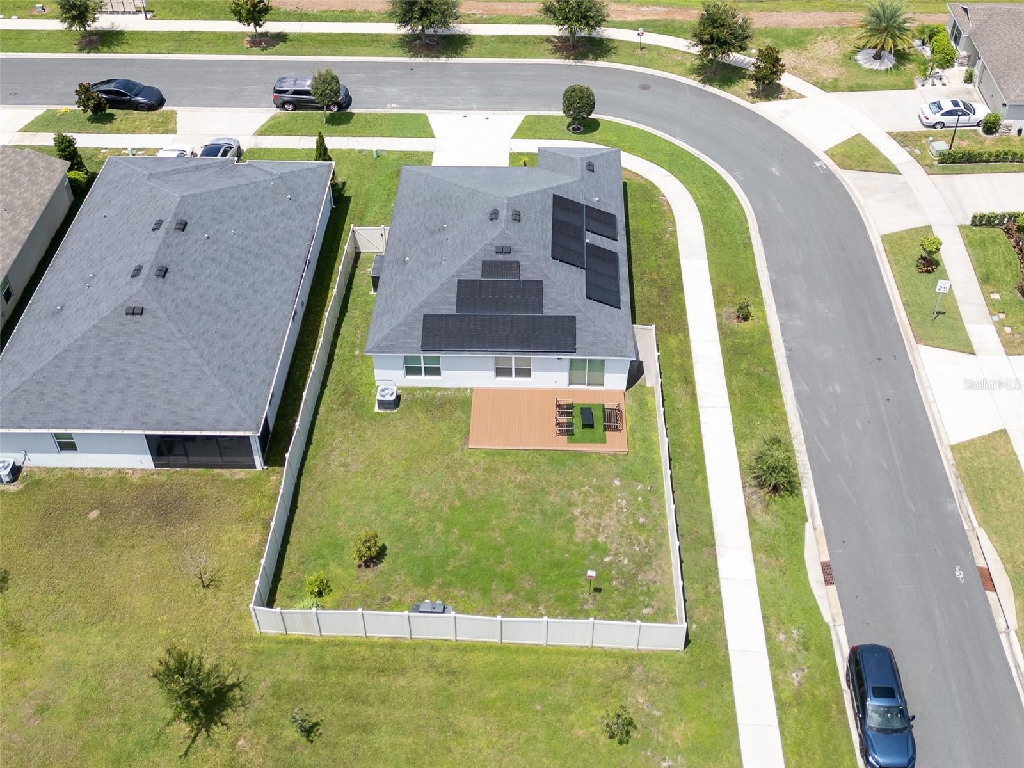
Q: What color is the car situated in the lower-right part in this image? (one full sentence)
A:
The car situated in the lower-right part looks blue in the image.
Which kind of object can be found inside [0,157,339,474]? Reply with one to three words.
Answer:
house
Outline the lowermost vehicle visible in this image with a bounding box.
[843,645,922,768]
